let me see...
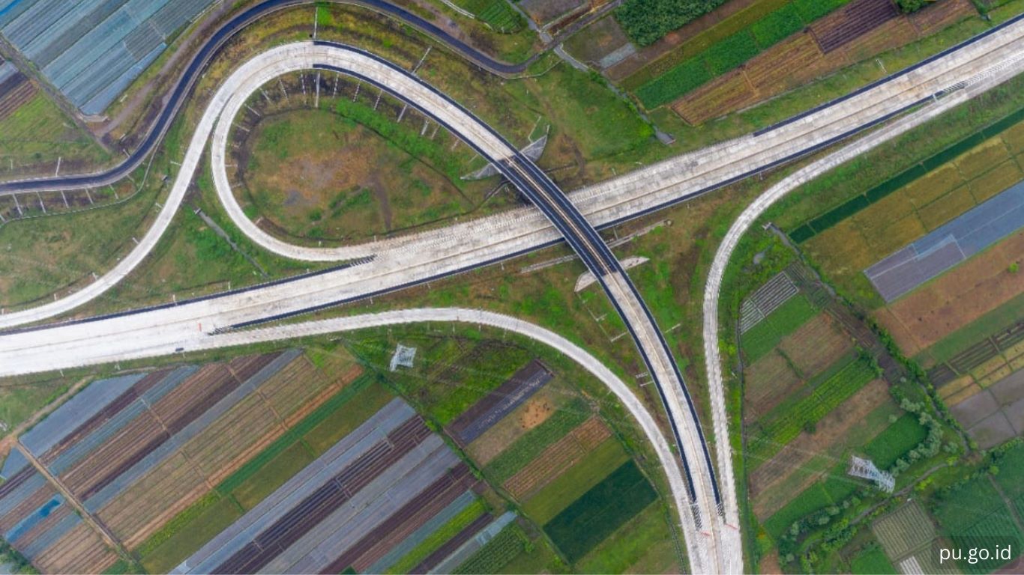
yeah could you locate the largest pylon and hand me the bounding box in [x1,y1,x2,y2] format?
[847,454,898,493]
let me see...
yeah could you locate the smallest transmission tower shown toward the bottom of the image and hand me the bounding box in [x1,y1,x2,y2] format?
[392,343,418,371]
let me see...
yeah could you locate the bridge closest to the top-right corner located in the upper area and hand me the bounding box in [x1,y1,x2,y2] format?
[460,135,649,293]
